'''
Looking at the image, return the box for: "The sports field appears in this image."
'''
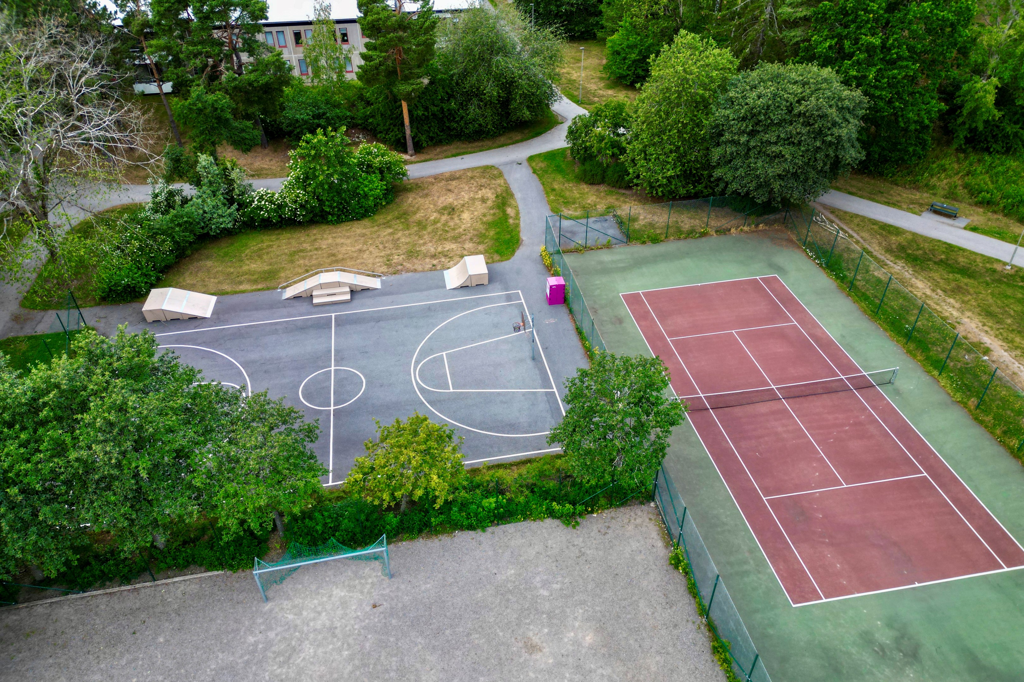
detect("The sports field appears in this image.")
[0,508,724,682]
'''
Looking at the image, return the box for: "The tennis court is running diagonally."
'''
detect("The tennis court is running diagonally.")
[621,276,1024,605]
